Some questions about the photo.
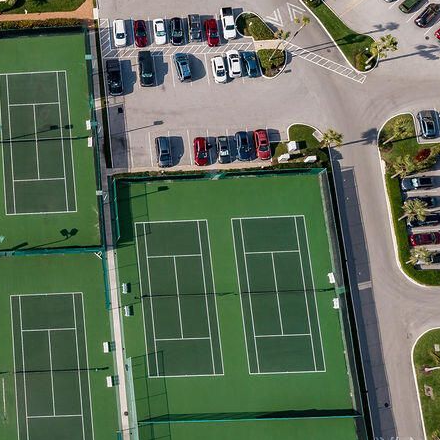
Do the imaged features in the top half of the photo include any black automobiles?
Yes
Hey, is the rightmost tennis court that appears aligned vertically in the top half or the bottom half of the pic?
bottom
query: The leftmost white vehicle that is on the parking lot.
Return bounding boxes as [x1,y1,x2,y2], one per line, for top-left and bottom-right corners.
[112,19,128,48]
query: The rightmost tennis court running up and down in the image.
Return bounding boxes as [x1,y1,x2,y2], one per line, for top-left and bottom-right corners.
[215,174,355,421]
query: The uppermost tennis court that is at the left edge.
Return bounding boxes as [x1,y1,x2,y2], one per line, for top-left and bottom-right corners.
[0,34,101,253]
